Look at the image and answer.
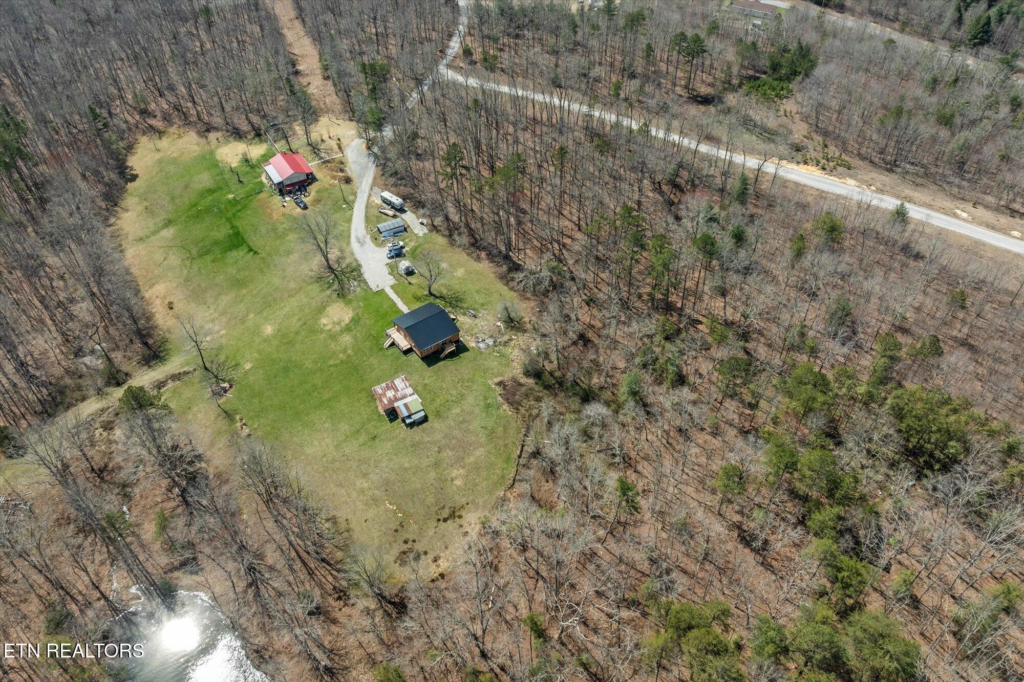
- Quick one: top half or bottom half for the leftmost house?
top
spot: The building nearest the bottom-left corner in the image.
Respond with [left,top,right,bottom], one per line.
[372,375,424,425]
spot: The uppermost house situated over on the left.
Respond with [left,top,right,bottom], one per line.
[262,149,315,196]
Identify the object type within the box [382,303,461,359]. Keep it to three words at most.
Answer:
house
